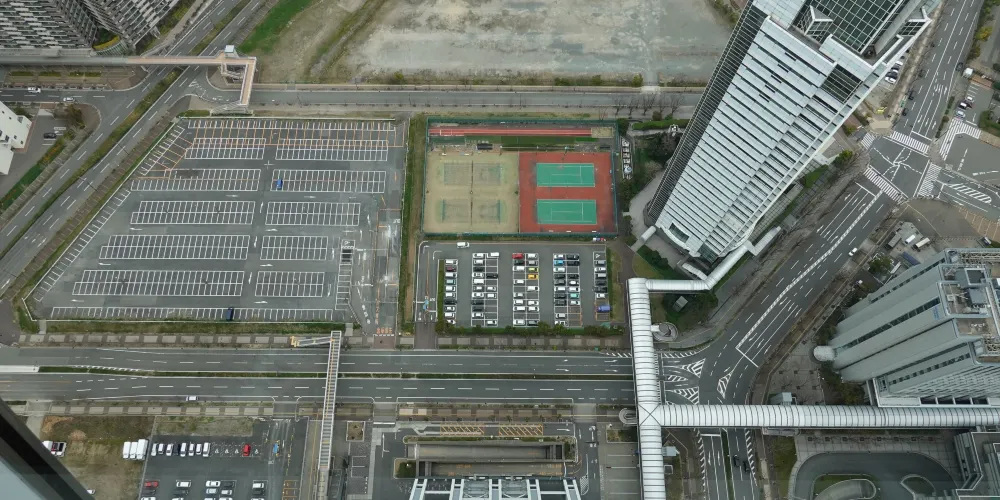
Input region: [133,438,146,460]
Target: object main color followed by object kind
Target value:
white vehicle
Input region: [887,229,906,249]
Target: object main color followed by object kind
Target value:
gray vehicle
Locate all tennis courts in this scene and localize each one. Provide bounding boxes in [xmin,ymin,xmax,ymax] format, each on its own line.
[520,152,612,193]
[423,191,520,232]
[424,152,520,191]
[520,193,614,232]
